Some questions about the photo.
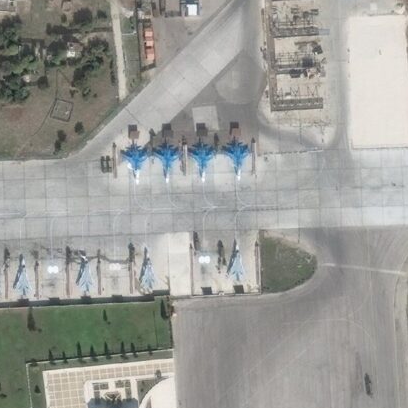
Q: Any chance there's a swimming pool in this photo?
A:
No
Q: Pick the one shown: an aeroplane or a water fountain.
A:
aeroplane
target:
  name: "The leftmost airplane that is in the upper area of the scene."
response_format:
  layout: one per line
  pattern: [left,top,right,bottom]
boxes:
[122,141,149,184]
